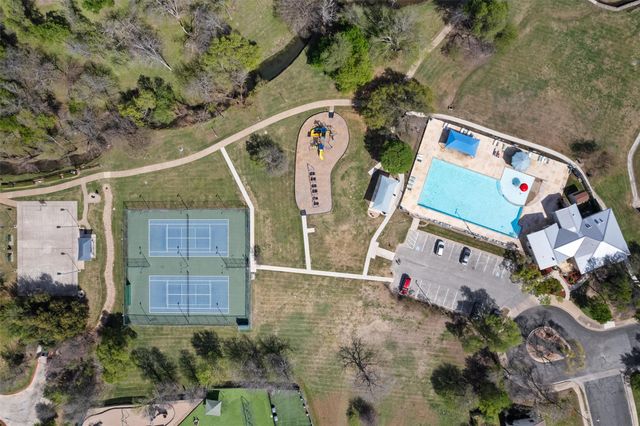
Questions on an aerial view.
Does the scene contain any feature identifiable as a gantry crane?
No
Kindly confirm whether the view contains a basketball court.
Yes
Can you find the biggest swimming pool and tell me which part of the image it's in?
right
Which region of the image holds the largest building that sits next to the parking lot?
right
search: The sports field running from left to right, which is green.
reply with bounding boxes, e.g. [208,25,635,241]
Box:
[178,390,274,426]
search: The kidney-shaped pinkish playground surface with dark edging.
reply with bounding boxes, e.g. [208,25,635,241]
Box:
[295,111,349,214]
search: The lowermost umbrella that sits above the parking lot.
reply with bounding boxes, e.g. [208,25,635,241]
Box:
[511,152,530,171]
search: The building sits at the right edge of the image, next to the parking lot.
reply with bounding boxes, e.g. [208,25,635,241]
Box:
[524,203,630,275]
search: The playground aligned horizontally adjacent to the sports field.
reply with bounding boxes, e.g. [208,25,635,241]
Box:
[81,397,204,426]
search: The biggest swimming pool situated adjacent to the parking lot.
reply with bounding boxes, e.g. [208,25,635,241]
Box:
[400,119,569,261]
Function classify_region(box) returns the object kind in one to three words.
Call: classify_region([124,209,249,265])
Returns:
tennis court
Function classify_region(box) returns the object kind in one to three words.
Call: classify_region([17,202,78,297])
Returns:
basketball court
